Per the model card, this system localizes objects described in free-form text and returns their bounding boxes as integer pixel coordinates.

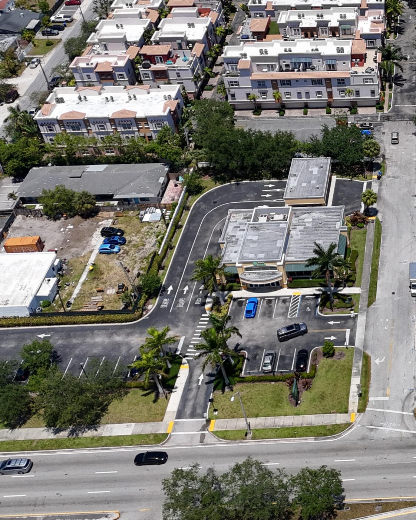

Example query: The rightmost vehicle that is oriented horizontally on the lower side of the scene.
[277,322,311,341]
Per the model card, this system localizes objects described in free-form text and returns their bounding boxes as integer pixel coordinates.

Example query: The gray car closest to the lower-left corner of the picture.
[0,458,34,475]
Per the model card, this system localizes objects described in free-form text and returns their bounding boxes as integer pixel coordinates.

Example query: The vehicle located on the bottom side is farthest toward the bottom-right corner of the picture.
[293,350,310,371]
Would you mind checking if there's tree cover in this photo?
Yes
